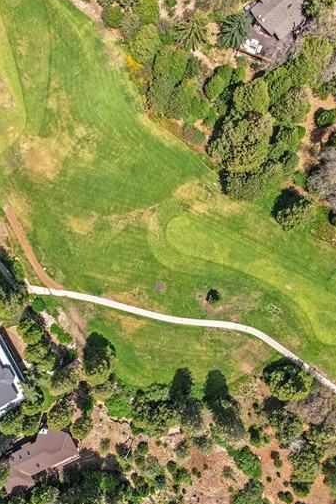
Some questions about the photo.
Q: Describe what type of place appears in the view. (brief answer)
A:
golf course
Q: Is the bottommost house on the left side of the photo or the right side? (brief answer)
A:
left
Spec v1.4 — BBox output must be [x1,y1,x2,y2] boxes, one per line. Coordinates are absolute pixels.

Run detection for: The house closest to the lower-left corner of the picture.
[4,428,81,494]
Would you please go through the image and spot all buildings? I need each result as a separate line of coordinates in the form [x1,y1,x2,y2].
[0,333,26,411]
[240,0,308,63]
[4,428,81,494]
